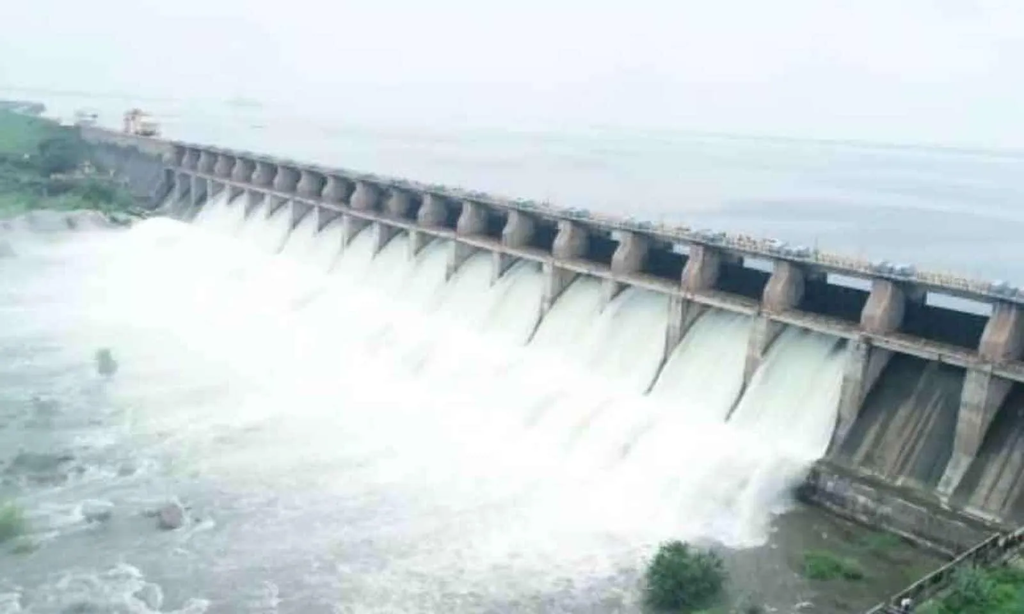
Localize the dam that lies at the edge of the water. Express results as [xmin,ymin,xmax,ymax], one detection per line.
[151,139,1024,564]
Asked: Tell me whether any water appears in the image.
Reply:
Yes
